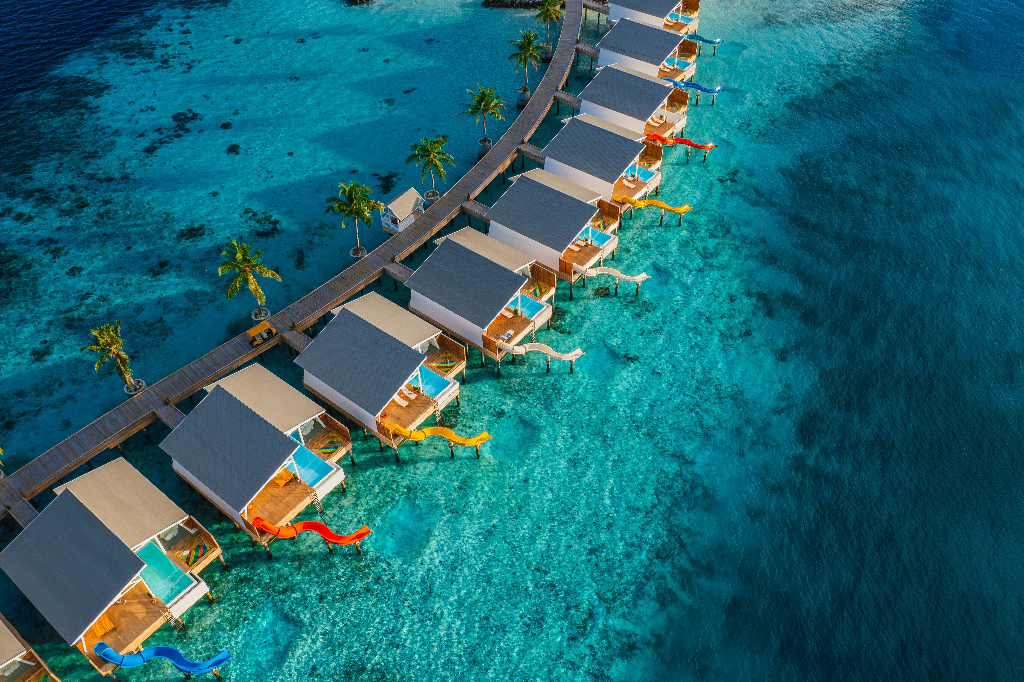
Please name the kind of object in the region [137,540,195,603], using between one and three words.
swimming pool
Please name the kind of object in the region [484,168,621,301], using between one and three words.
house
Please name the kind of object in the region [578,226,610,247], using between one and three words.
swimming pool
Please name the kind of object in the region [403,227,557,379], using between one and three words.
house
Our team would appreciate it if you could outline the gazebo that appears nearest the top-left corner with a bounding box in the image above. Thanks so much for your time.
[377,184,426,238]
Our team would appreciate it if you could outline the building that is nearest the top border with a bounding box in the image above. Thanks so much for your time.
[606,0,701,42]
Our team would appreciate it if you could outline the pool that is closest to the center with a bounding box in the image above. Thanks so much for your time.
[507,293,544,318]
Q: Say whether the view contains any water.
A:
Yes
